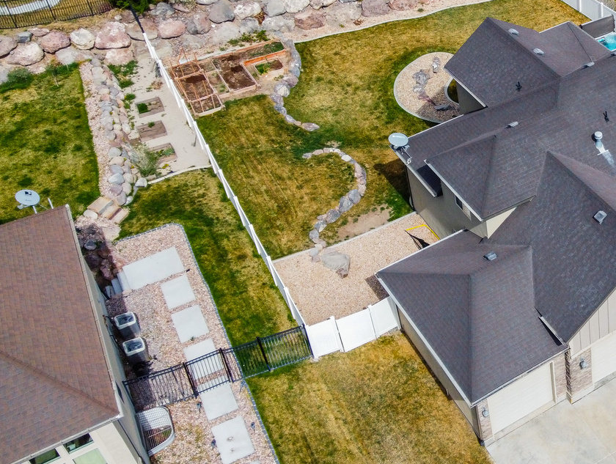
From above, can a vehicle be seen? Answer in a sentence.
No, no vehicle can be seen from above.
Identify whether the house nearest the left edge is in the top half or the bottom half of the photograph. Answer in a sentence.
Seen from above, the house nearest the left edge lies in the bottom half of the view.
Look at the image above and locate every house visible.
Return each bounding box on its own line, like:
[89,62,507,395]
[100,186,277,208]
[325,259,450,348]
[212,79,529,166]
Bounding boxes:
[373,18,616,452]
[0,206,138,464]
